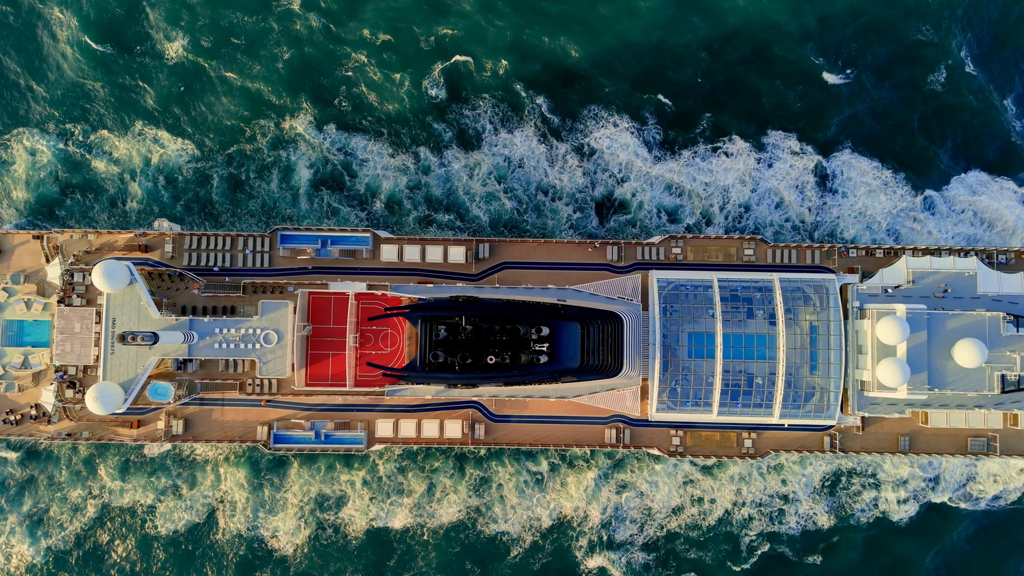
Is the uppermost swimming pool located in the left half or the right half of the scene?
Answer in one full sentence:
It is on the left.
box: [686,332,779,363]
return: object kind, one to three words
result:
swimming pool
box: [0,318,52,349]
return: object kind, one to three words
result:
swimming pool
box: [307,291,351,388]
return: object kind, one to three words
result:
sports court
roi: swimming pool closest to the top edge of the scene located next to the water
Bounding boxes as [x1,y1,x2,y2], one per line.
[277,231,373,259]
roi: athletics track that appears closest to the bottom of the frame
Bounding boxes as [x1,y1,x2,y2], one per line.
[109,397,838,433]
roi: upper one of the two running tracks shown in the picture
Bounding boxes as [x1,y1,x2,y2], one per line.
[92,257,840,282]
